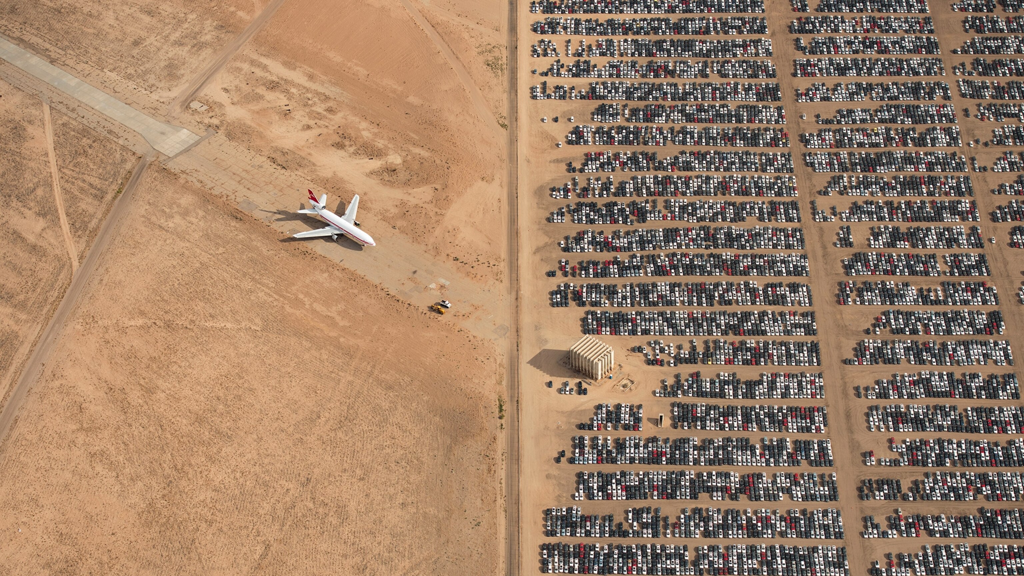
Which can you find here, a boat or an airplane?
airplane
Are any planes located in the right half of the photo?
No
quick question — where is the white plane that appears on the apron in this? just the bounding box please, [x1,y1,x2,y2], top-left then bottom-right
[295,189,376,247]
